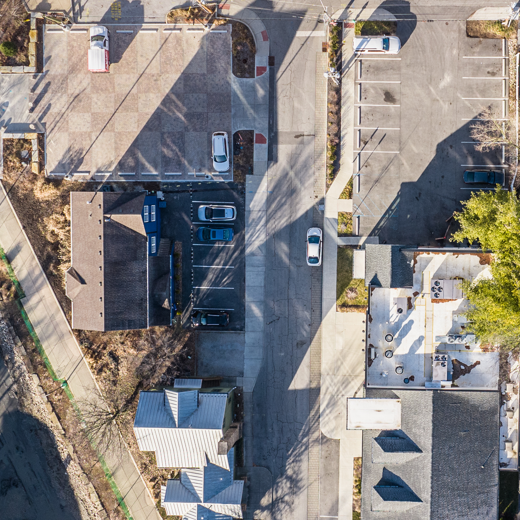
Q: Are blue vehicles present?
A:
Yes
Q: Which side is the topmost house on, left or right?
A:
left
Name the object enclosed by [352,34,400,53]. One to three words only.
car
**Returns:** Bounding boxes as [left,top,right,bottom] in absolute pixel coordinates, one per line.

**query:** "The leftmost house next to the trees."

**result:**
[66,191,179,332]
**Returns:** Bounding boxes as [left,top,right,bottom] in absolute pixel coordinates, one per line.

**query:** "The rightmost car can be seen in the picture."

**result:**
[463,168,504,186]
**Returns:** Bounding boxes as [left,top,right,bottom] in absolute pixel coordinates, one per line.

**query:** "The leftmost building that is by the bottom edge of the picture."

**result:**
[134,384,250,520]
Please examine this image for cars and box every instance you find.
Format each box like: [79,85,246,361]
[192,310,229,328]
[210,132,230,171]
[305,227,324,266]
[352,34,400,53]
[196,225,234,243]
[198,204,237,223]
[463,168,504,186]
